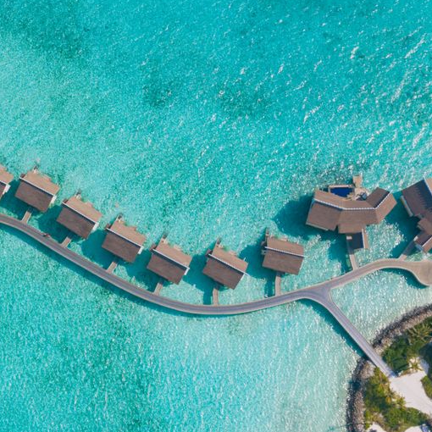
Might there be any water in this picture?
Yes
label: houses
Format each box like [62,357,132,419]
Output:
[200,239,248,290]
[146,235,194,286]
[55,191,102,240]
[100,215,146,265]
[259,229,306,277]
[14,165,60,215]
[0,164,13,199]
